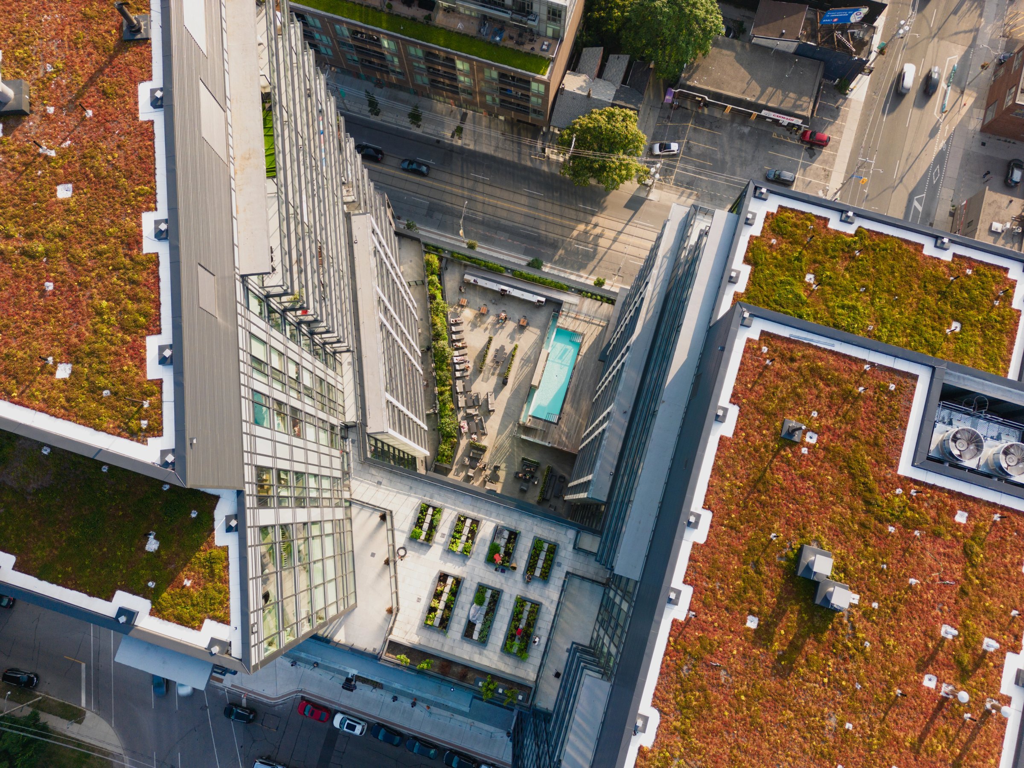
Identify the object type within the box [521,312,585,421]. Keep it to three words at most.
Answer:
swimming pool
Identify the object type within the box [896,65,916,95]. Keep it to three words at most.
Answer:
car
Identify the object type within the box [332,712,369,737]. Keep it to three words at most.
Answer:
car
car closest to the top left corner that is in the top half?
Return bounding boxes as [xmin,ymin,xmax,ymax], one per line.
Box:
[355,143,386,162]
